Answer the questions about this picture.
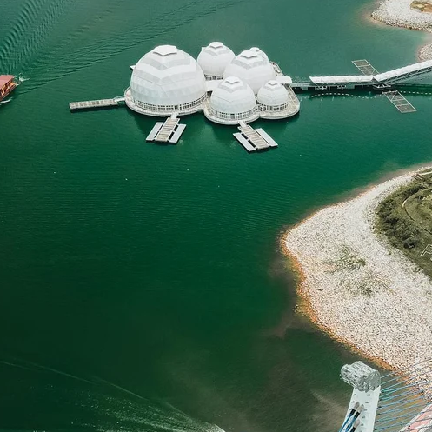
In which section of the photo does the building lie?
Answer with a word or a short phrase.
top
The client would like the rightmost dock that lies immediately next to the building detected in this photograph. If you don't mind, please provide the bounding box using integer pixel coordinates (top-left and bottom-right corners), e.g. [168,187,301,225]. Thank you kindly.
[233,118,278,153]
